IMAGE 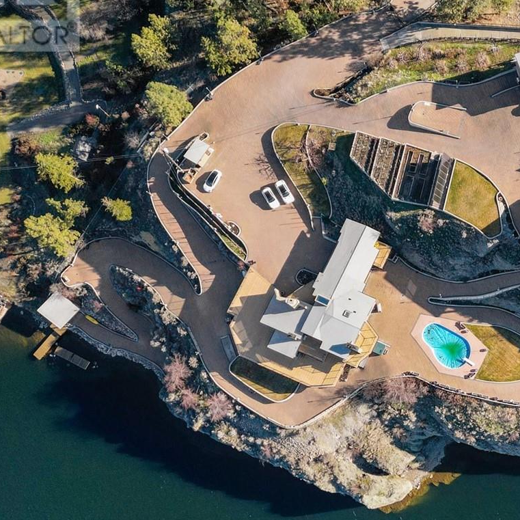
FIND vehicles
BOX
[273,177,294,205]
[259,183,280,209]
[200,168,222,193]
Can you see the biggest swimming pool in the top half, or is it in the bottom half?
bottom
